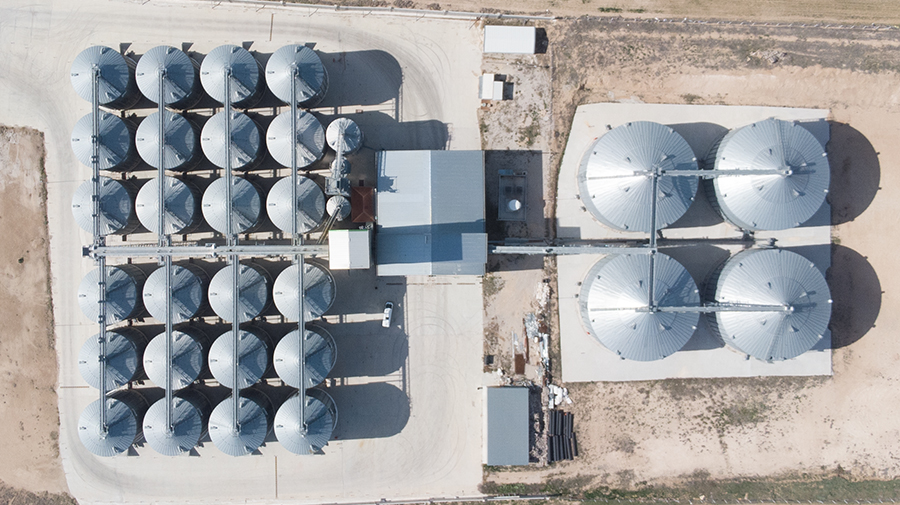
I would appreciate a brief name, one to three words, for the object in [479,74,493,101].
building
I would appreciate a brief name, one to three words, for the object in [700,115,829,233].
silo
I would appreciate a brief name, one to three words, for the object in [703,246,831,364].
silo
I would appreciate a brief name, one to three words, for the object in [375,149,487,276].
warehouse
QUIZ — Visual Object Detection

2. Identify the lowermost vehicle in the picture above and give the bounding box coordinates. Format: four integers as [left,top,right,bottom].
[381,300,394,328]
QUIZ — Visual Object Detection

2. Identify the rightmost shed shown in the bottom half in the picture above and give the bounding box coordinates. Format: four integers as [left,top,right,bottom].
[480,384,529,465]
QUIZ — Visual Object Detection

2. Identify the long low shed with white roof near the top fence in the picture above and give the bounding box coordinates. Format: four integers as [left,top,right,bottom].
[484,26,535,55]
